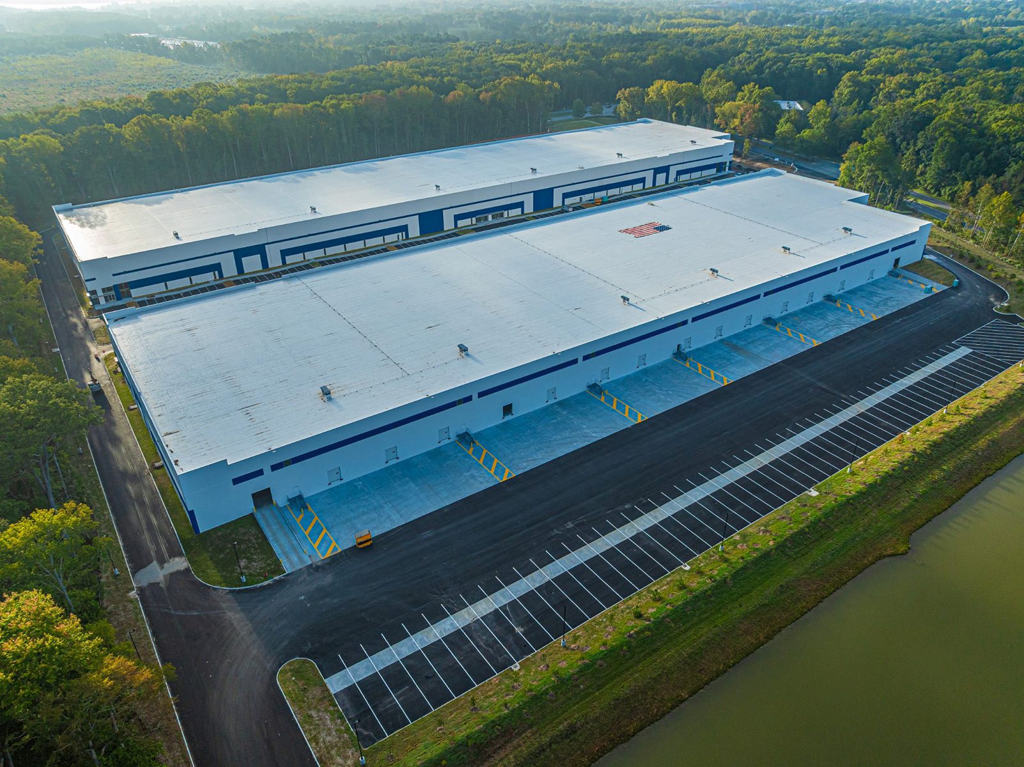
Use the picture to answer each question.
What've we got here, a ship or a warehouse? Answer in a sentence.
Visible in the photo is a warehouse.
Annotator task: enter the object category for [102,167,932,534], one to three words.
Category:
warehouse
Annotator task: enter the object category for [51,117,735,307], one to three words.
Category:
warehouse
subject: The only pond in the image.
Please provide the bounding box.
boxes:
[600,455,1024,767]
